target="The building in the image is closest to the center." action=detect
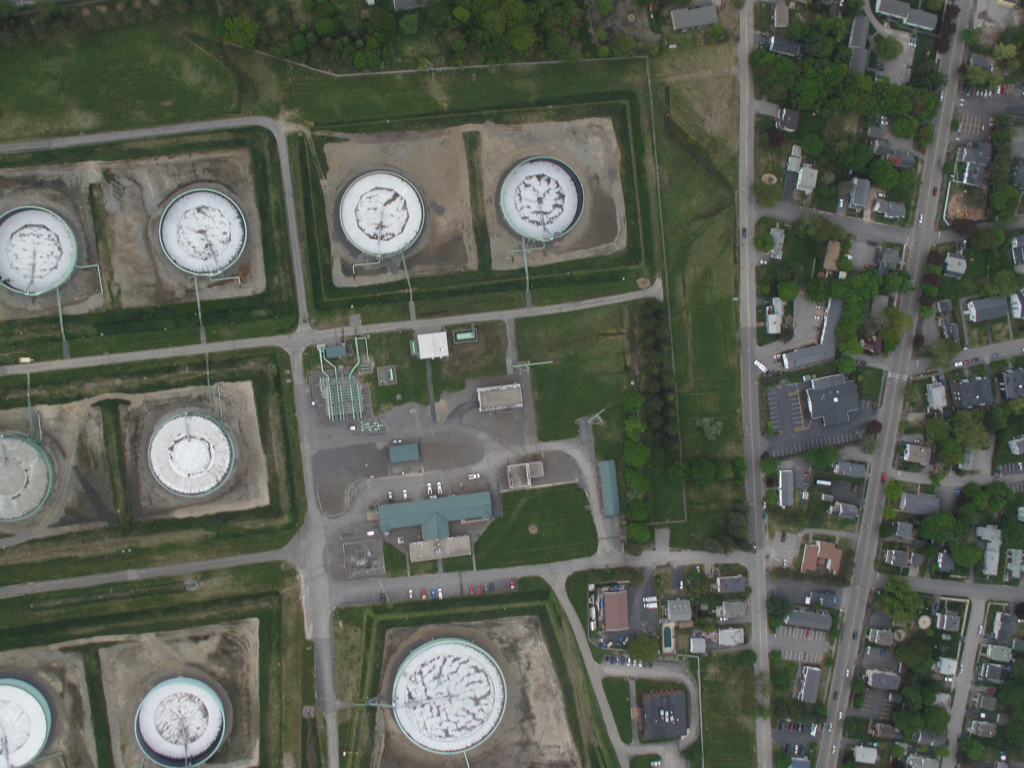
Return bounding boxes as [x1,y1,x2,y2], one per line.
[476,382,523,411]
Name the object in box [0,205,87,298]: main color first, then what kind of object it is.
white storage tank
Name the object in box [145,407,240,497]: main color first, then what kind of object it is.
white storage tank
